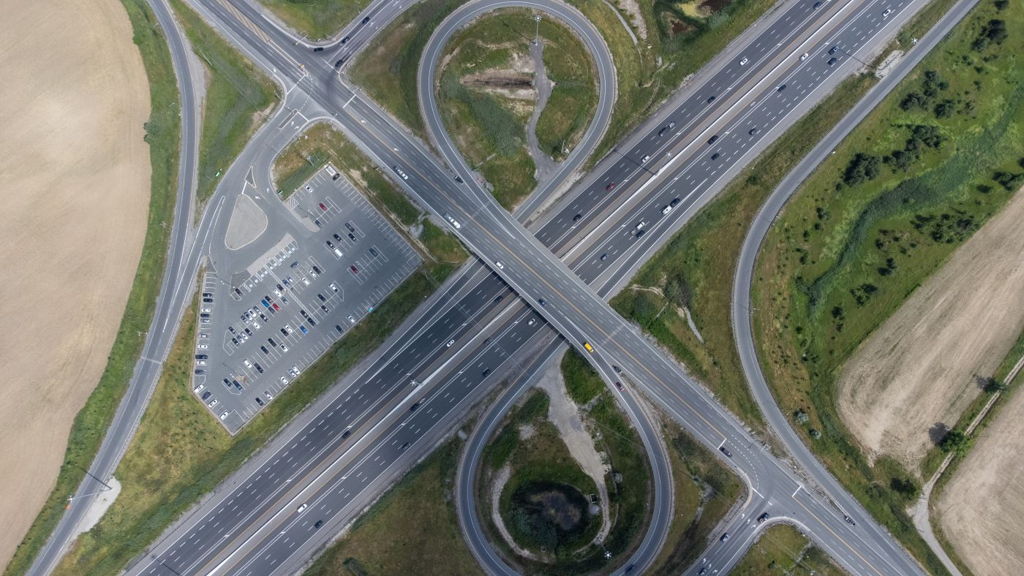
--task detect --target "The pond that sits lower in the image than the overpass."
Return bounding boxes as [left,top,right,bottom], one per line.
[519,483,585,534]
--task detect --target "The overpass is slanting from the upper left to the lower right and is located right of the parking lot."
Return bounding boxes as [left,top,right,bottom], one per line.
[452,204,627,357]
